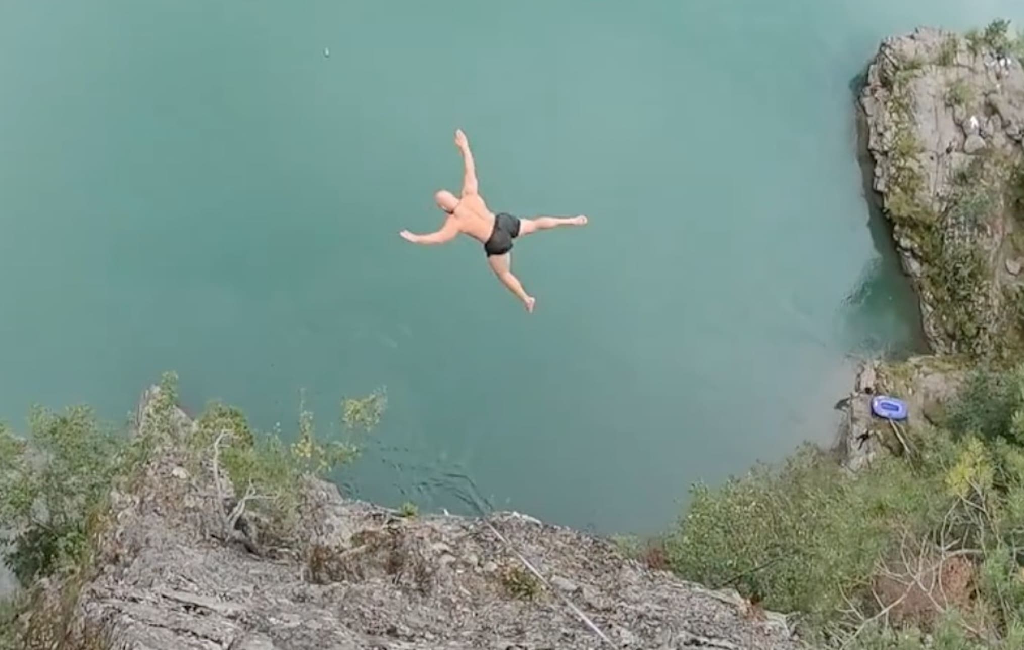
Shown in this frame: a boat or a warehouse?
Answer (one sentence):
This aerial view contains a boat.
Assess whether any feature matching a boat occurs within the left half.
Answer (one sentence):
No, no boat is visible within the left half.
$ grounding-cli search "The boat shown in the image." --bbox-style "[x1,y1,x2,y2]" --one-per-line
[874,395,913,420]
